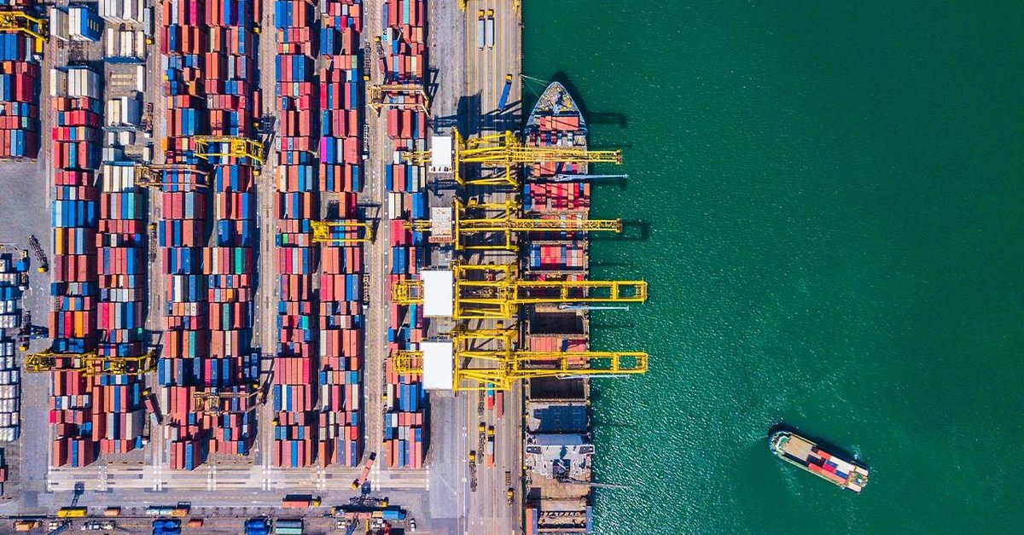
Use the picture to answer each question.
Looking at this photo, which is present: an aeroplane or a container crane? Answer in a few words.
container crane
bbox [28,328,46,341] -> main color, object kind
blue vehicle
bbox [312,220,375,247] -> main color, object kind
yellow container crane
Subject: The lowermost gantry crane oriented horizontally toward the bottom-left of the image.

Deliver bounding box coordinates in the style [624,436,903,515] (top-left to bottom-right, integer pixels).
[194,382,264,415]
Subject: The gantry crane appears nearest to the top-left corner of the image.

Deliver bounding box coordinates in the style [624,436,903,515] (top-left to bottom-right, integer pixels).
[0,10,55,50]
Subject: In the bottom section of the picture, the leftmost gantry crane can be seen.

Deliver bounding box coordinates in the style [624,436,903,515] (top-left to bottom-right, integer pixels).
[27,348,98,374]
